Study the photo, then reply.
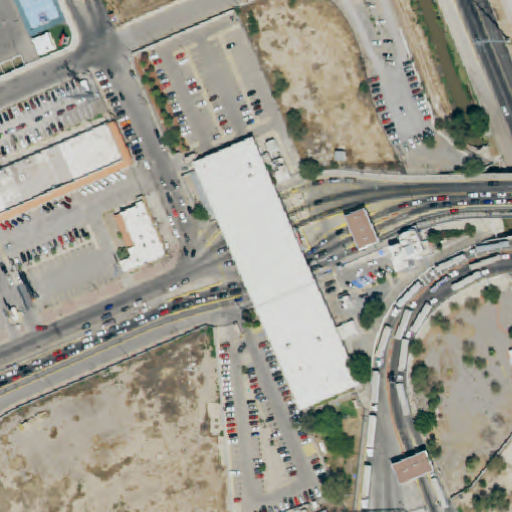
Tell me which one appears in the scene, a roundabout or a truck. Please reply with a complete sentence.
The image shows a truck.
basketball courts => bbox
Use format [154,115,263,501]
[14,0,64,36]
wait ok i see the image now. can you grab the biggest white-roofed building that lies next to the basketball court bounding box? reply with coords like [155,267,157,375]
[32,32,58,56]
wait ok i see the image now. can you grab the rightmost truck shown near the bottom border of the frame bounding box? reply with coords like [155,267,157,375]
[426,471,448,508]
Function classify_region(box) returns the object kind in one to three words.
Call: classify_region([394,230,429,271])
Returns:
building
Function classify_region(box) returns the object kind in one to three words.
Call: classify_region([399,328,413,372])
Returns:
vehicle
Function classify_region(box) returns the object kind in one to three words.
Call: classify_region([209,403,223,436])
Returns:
building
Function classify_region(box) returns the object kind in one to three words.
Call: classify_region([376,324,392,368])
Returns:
vehicle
